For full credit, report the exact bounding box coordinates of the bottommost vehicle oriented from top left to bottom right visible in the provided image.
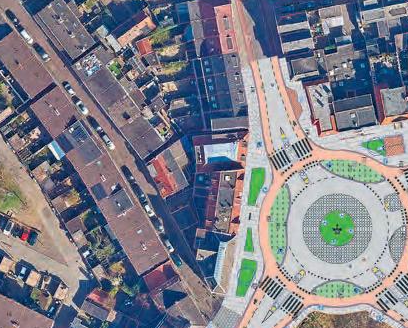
[171,252,183,268]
